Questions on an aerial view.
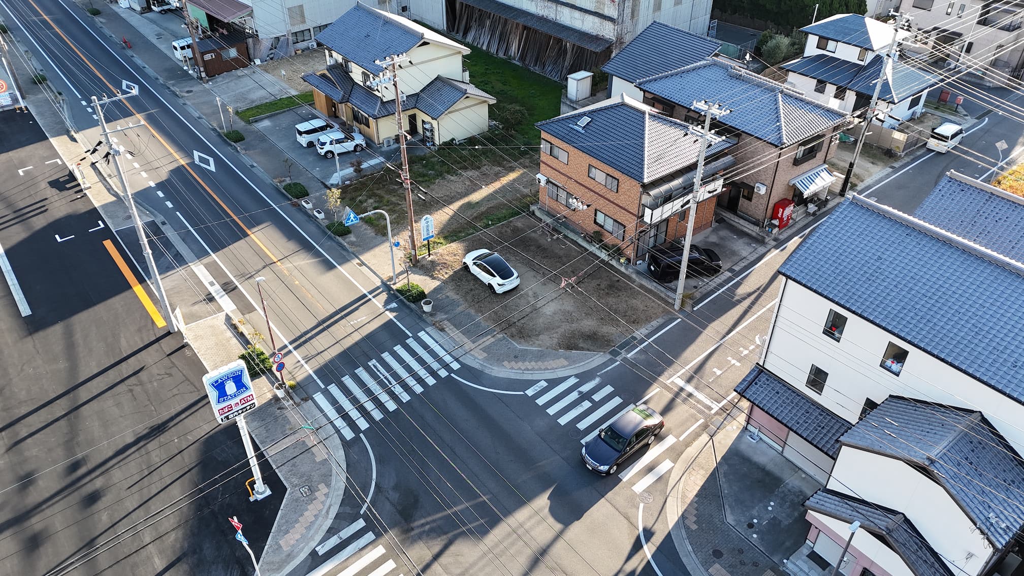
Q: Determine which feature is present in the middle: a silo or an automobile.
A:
automobile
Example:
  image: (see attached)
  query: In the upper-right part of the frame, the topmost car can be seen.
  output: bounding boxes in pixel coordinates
[933,123,970,150]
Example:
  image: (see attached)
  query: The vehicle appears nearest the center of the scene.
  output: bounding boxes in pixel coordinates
[459,247,517,288]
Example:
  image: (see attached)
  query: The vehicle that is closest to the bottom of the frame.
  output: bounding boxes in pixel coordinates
[586,402,669,470]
